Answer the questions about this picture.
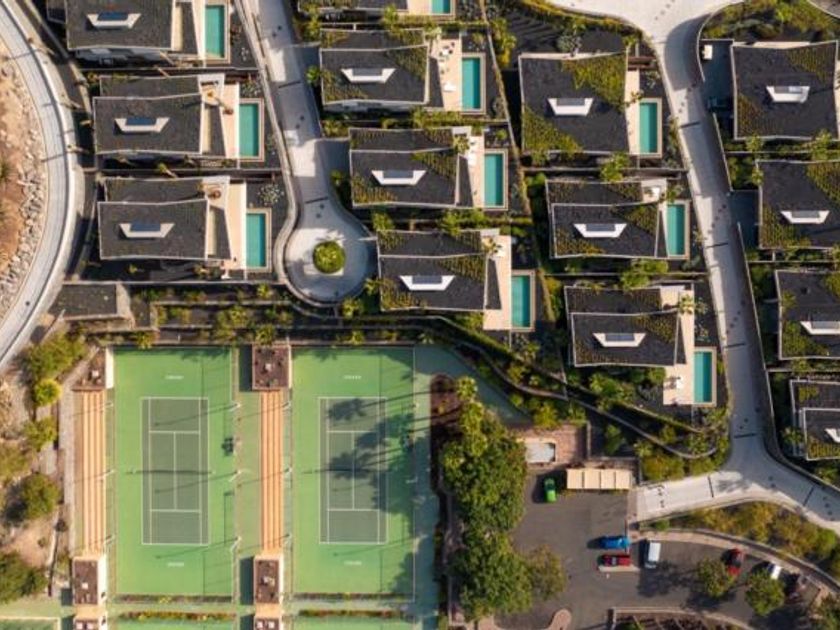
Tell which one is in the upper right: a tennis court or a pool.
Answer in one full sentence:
You can see a pool in the upper right.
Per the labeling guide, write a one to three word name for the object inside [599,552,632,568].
vehicle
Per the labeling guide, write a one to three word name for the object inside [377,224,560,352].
house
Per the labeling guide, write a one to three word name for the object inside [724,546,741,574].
car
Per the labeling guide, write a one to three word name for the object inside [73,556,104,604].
building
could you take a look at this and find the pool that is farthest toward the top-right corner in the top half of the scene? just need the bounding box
[639,98,662,158]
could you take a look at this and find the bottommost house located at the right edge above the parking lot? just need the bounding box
[774,378,840,461]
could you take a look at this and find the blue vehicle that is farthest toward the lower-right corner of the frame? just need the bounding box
[600,535,628,550]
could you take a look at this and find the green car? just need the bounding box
[543,478,557,502]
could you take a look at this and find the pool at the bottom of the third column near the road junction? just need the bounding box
[692,346,717,407]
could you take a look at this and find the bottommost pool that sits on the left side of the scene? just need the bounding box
[246,208,272,272]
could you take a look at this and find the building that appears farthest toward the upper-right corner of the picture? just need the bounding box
[722,38,840,144]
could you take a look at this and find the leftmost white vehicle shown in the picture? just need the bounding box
[643,538,660,568]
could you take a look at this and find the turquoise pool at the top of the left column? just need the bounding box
[205,0,230,62]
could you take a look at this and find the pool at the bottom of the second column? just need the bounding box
[509,270,536,331]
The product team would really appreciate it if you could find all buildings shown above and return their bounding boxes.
[745,159,840,249]
[722,38,840,144]
[98,172,292,279]
[517,53,682,168]
[563,280,729,426]
[72,347,111,389]
[74,610,104,630]
[349,124,528,219]
[73,556,104,604]
[48,0,257,67]
[763,271,840,360]
[93,75,282,167]
[253,555,282,603]
[254,613,281,630]
[544,173,707,270]
[377,224,560,352]
[253,346,290,389]
[52,285,137,318]
[320,27,505,119]
[774,378,840,461]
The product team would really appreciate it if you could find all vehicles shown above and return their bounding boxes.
[599,552,632,568]
[600,535,628,550]
[643,538,660,568]
[781,571,805,599]
[543,478,557,502]
[699,44,712,63]
[763,557,781,585]
[724,546,741,574]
